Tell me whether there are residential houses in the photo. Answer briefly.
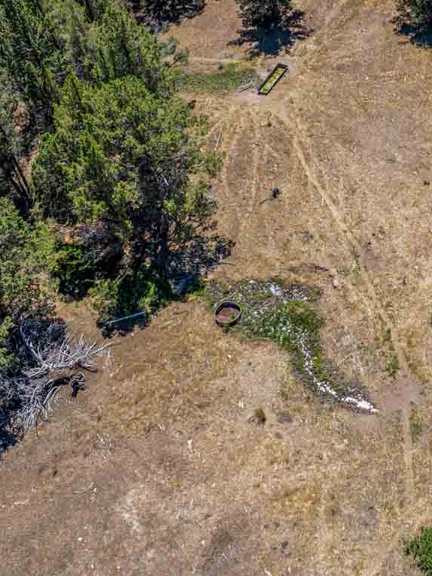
No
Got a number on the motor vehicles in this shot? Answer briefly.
none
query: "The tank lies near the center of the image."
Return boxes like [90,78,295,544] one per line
[212,302,241,331]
